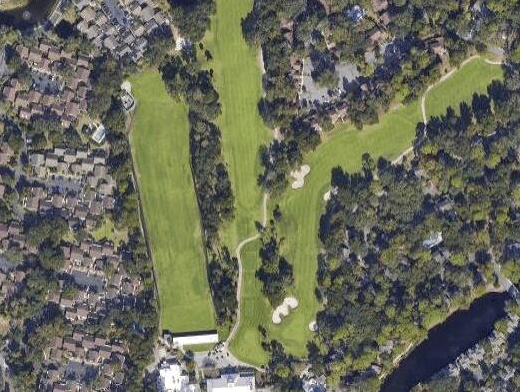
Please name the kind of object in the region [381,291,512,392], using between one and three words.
pond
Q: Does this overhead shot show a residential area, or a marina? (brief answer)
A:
residential area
